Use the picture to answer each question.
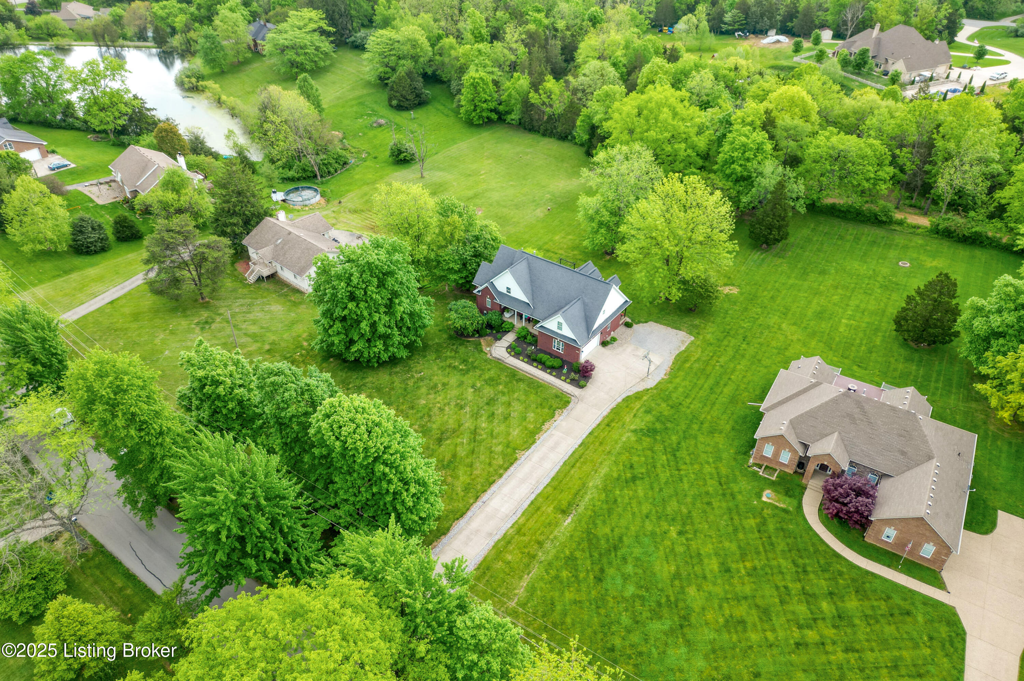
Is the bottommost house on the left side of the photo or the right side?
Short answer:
right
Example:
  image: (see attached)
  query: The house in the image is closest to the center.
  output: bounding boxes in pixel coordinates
[472,246,634,362]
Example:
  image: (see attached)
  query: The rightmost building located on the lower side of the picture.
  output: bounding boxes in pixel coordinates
[753,355,983,572]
